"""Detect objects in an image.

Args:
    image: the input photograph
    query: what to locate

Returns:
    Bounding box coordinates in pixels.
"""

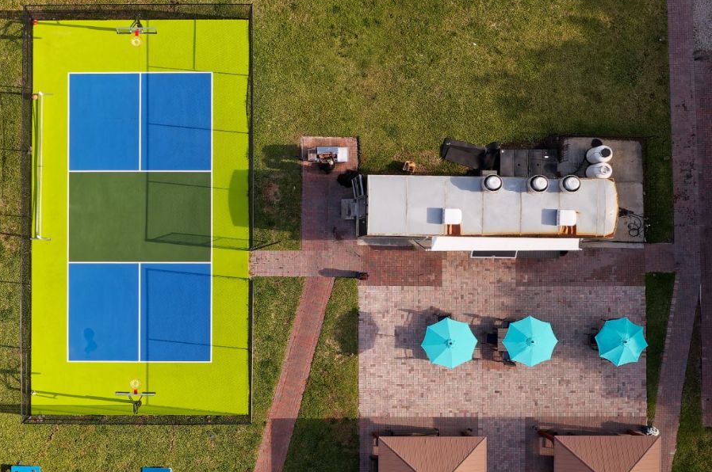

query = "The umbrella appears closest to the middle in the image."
[419,313,478,371]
